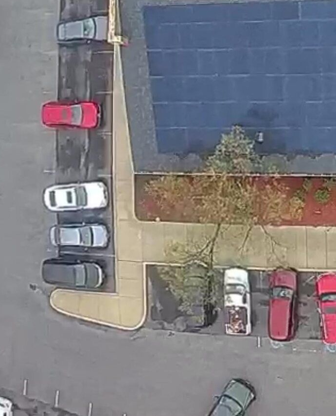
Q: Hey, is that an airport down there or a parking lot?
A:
parking lot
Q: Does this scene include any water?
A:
No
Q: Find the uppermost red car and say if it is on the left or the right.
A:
left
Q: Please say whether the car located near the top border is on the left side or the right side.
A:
left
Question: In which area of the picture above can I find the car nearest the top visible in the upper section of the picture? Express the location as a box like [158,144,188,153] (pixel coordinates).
[55,14,112,43]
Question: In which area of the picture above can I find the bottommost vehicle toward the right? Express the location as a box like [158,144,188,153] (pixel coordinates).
[208,373,255,416]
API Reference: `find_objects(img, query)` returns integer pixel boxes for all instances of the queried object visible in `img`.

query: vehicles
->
[39,100,105,130]
[39,259,108,291]
[48,222,110,252]
[221,267,255,338]
[0,396,21,416]
[55,14,112,43]
[42,181,109,213]
[181,263,215,331]
[315,272,336,347]
[265,268,301,343]
[208,373,255,416]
